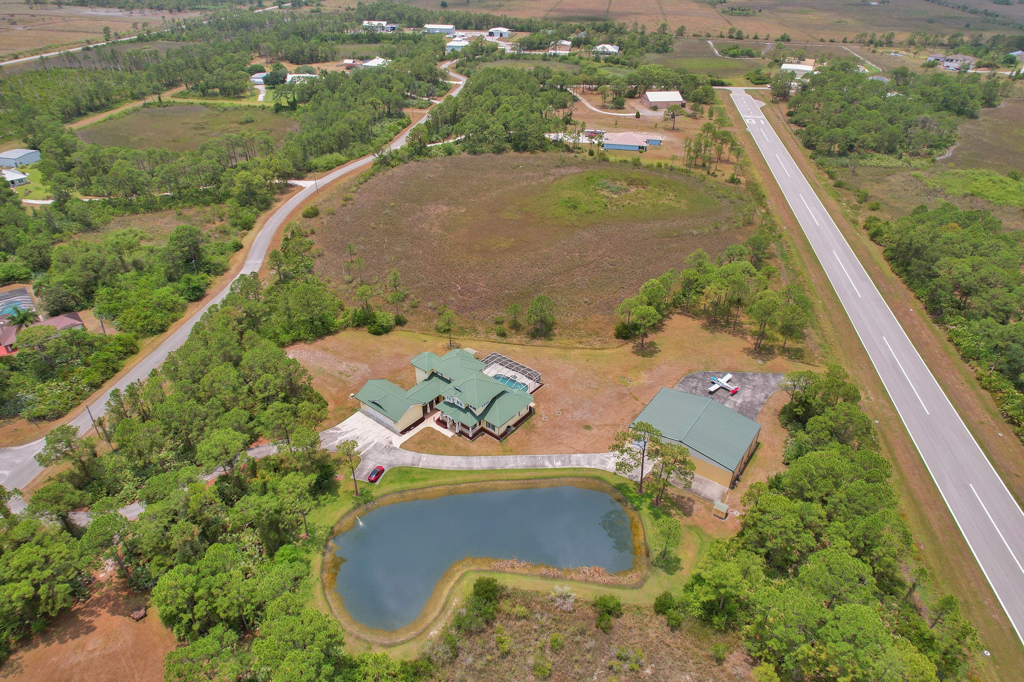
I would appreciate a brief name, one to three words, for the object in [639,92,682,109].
barn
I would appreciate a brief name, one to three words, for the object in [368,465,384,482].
car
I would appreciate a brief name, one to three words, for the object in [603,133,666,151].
house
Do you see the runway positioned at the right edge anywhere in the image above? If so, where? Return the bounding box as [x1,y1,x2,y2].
[731,93,1024,649]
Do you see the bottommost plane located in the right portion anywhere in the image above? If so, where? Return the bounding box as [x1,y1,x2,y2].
[708,374,740,393]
